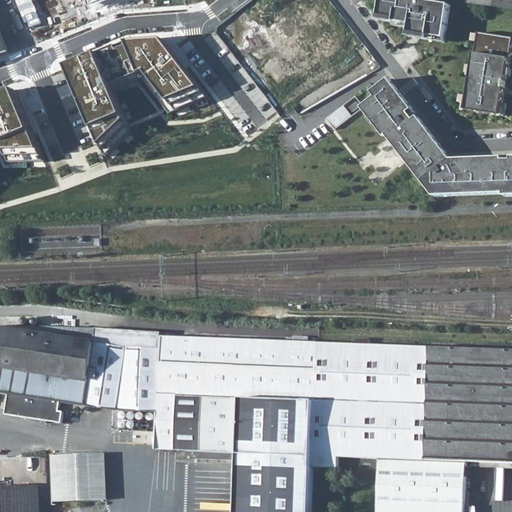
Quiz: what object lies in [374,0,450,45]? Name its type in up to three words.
building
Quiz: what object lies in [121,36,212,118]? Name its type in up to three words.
building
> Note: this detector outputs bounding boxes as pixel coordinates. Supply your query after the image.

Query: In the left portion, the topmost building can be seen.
[16,0,44,30]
